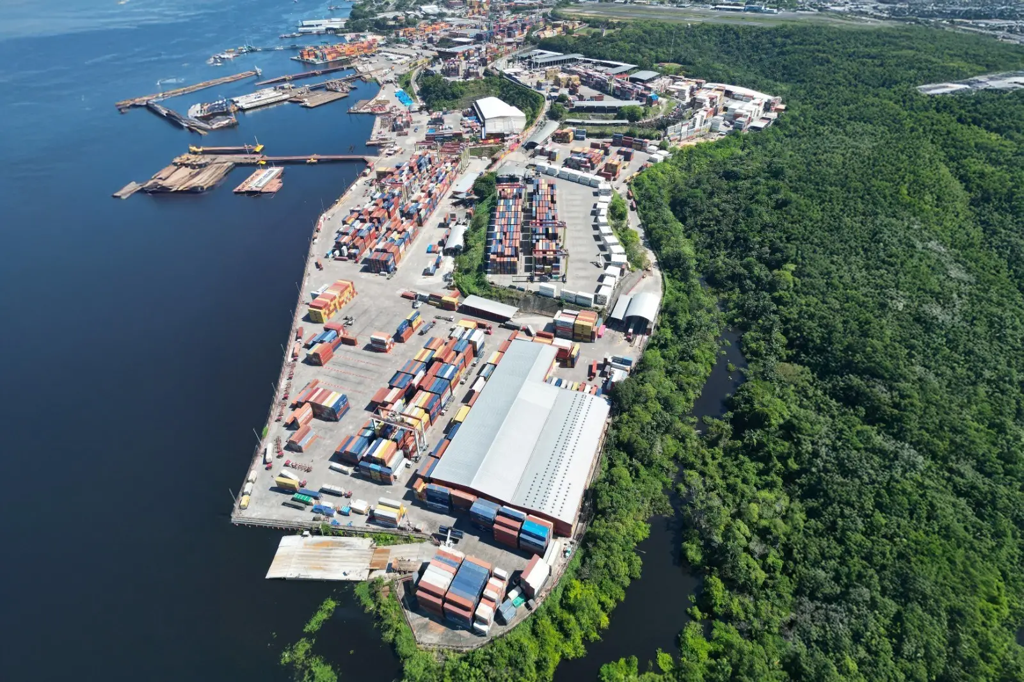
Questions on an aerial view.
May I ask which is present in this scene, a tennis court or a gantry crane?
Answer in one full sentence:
This aerial view contains a gantry crane.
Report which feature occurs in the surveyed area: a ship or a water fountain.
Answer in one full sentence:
Of the two, only a ship appears.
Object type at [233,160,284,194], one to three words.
ship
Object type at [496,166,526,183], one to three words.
shed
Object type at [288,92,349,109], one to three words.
ship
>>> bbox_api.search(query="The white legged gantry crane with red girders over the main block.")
[363,406,428,462]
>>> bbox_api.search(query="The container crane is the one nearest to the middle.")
[529,250,573,283]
